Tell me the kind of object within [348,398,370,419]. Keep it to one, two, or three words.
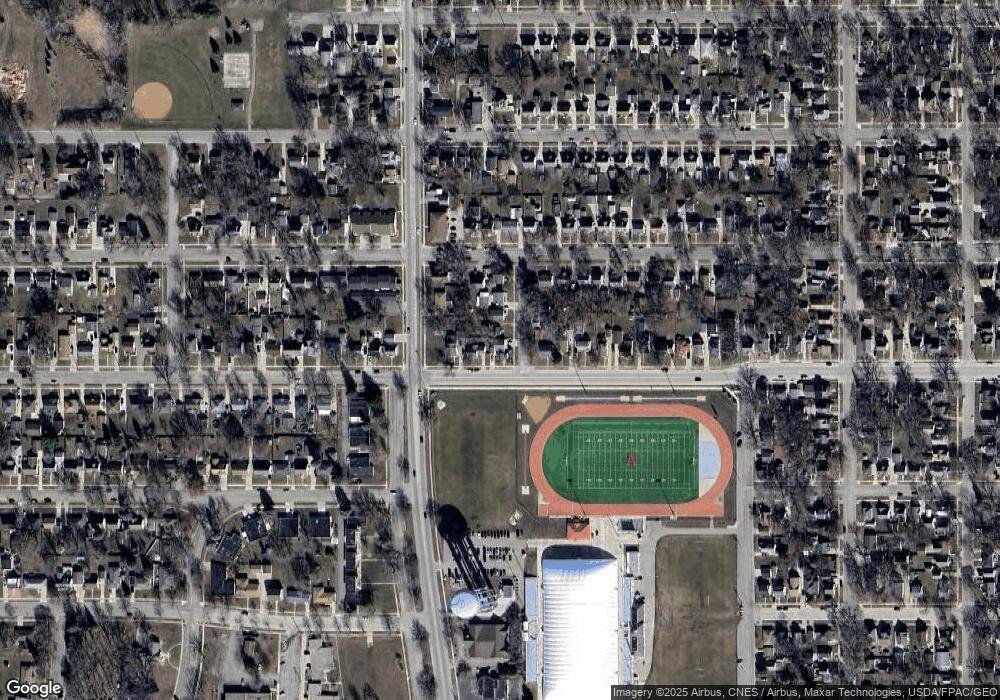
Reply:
building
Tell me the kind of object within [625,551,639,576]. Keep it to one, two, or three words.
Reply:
building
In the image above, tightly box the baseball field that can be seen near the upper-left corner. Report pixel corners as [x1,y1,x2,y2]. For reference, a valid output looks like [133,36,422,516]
[129,38,216,125]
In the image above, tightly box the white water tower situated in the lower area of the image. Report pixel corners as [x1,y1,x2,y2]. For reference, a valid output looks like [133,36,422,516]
[450,583,501,621]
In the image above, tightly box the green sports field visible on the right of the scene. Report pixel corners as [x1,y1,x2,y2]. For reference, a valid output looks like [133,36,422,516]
[542,419,720,499]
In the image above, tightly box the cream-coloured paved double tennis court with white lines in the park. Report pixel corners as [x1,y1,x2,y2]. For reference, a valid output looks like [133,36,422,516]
[225,53,250,88]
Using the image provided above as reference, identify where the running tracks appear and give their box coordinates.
[527,404,734,516]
